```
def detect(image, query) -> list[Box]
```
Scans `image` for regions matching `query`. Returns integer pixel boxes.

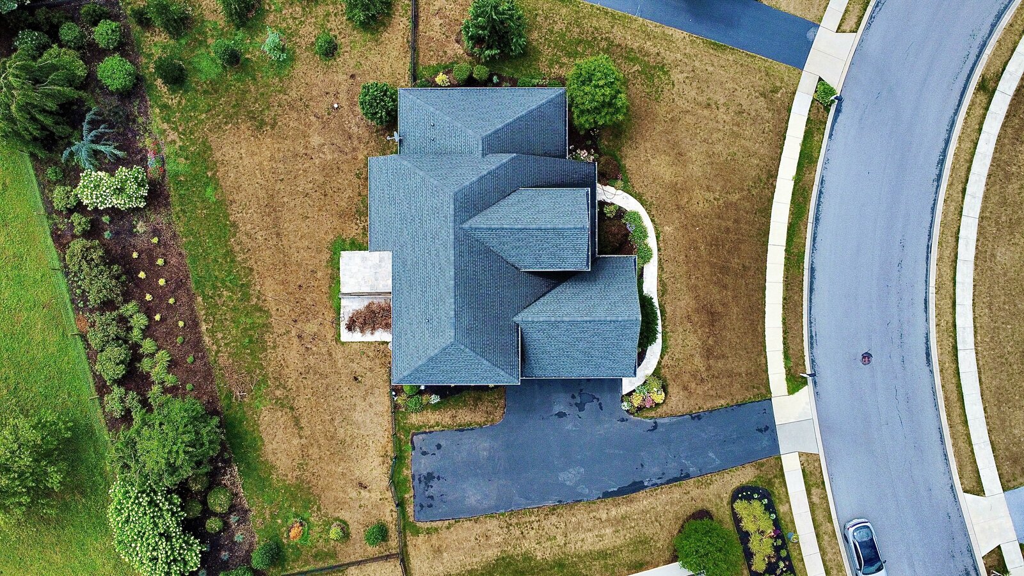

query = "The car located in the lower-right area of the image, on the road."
[846,519,893,576]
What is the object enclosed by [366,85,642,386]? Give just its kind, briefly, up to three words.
house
